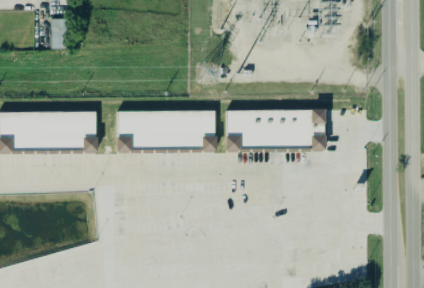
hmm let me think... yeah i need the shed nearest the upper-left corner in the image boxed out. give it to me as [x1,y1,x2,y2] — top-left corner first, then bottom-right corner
[51,19,66,49]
